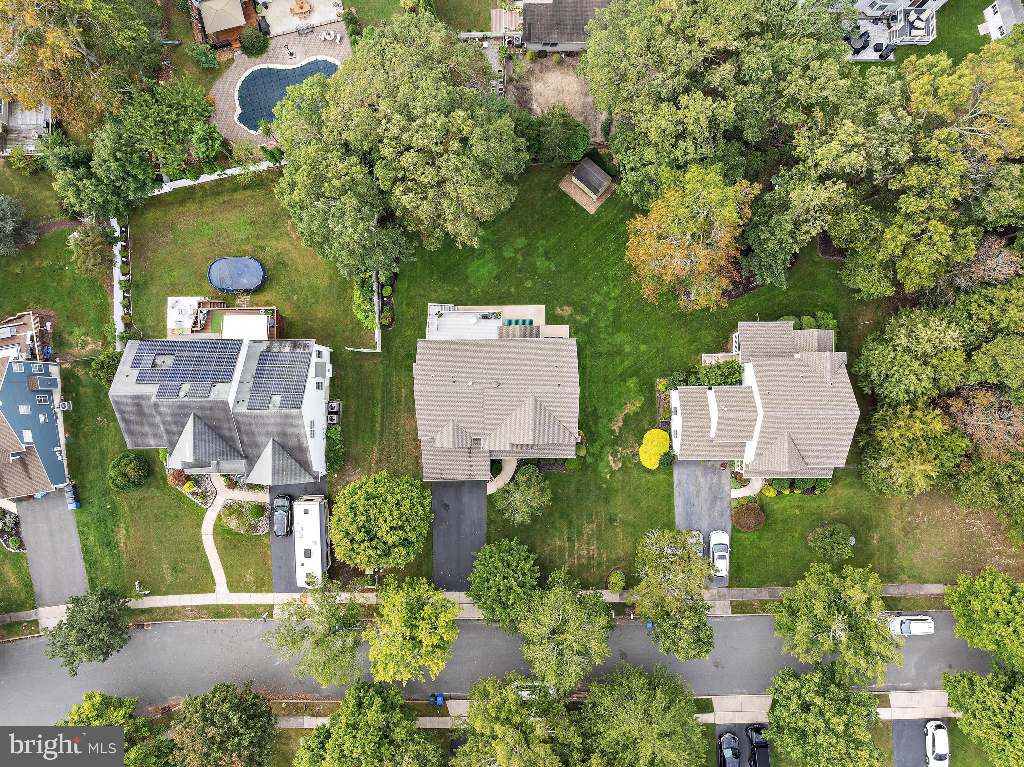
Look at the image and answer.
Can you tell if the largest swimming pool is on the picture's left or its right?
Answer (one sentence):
You can find the largest swimming pool on the left side of the picture.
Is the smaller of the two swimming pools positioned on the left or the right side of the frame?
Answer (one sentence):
The smaller of the two swimming pools appears in the left half of the scene.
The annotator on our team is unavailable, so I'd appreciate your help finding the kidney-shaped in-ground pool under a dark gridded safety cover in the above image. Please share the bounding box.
[235,56,343,135]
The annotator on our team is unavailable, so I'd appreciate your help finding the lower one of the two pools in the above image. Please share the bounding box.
[207,257,267,296]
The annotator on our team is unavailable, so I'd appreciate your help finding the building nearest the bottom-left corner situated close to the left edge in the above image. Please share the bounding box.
[0,357,69,496]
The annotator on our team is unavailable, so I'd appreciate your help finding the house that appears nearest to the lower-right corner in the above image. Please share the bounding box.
[672,321,863,479]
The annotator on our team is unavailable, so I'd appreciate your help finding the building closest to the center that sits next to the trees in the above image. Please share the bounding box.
[413,325,581,482]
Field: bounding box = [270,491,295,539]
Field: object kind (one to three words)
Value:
car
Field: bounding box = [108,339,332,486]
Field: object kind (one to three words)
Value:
house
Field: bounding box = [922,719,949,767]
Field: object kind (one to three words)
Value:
car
